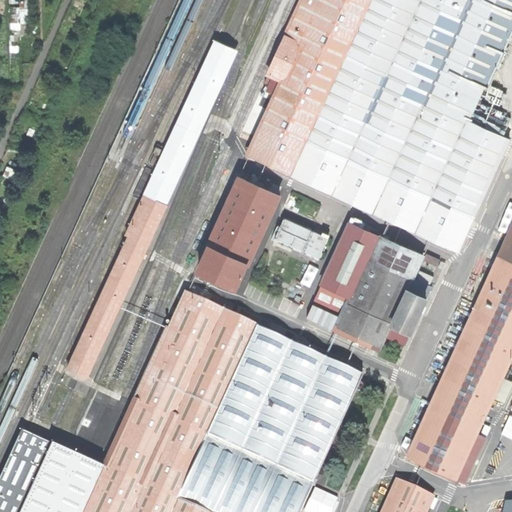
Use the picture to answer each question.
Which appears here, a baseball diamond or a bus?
bus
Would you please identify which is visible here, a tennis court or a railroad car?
railroad car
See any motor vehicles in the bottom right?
Yes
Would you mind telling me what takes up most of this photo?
buildings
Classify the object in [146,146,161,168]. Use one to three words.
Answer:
rail car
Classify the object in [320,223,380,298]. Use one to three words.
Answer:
building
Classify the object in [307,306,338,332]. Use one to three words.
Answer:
shed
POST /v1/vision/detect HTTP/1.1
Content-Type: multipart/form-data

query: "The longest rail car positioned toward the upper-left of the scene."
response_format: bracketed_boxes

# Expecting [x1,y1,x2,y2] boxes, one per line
[122,90,147,135]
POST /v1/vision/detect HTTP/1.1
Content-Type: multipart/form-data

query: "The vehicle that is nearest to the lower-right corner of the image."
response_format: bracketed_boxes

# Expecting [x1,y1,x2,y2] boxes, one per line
[487,440,508,472]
